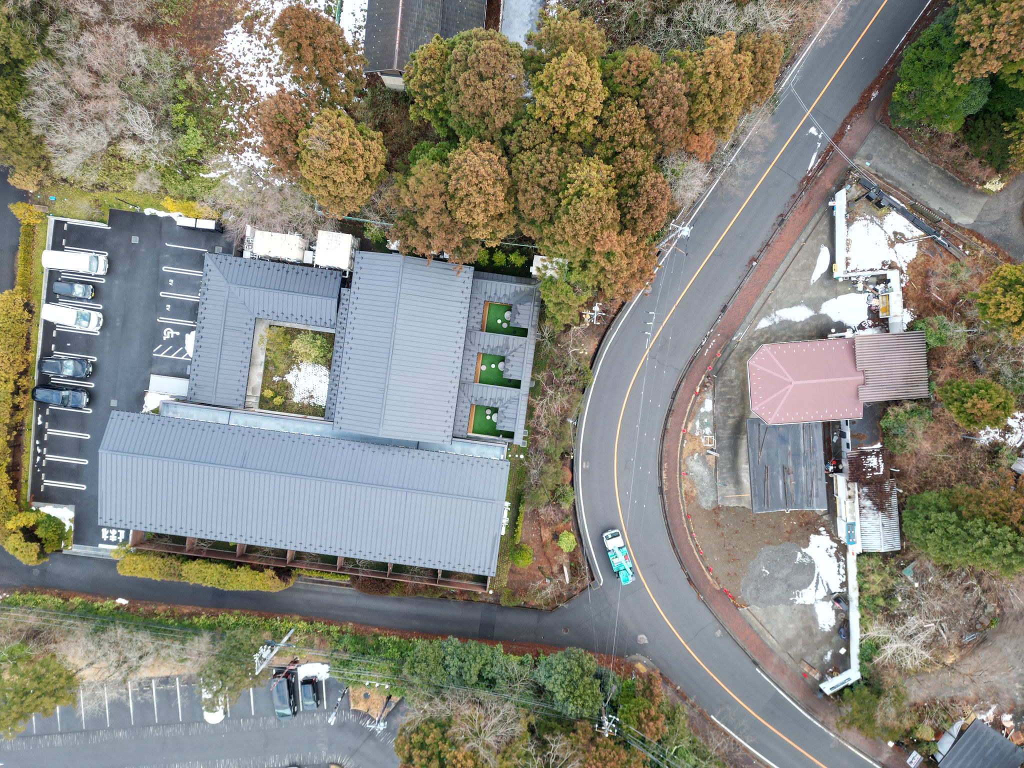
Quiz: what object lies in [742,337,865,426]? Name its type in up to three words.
building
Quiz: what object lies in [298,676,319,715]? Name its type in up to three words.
car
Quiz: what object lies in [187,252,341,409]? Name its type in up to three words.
building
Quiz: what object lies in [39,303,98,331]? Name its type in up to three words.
vehicle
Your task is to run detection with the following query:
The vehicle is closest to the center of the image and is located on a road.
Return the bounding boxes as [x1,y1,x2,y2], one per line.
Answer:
[600,528,638,593]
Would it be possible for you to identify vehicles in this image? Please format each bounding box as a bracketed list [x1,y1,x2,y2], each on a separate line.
[29,385,89,411]
[600,528,638,593]
[206,706,229,723]
[298,676,319,715]
[48,279,91,299]
[34,357,91,381]
[272,668,298,721]
[37,250,103,277]
[39,303,98,331]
